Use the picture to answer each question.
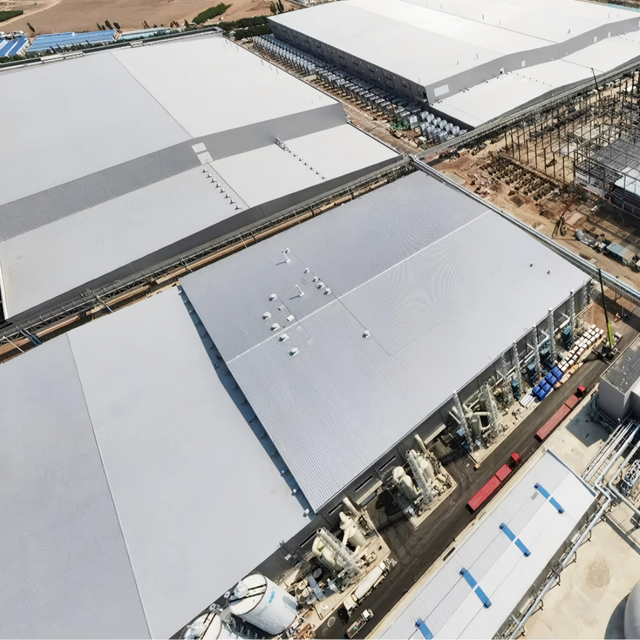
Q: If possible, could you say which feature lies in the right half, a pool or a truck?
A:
truck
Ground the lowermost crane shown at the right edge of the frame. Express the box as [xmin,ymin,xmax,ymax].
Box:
[598,267,628,358]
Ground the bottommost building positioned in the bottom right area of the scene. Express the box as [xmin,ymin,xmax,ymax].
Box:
[377,449,597,640]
